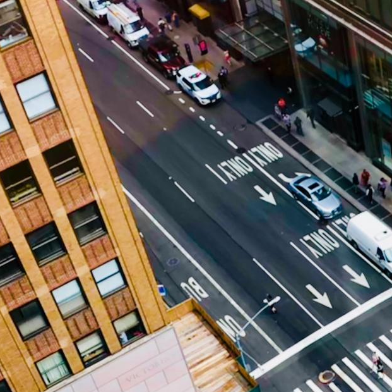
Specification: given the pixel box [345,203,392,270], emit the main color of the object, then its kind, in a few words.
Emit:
white van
